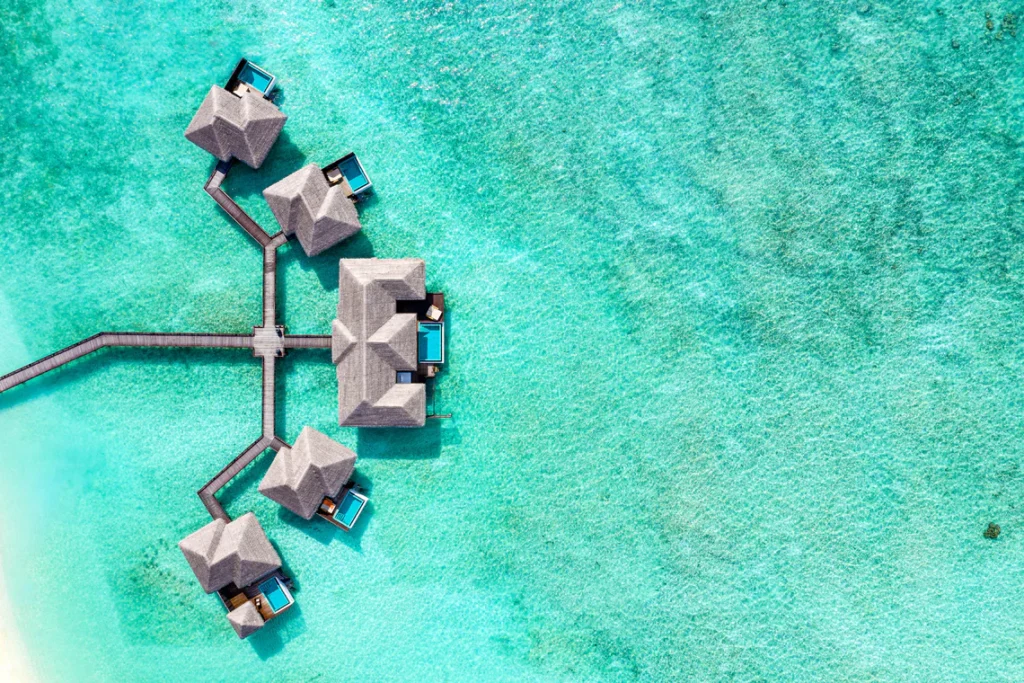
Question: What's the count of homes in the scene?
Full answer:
The picture shows 5 homes.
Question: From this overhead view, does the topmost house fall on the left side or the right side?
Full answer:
The topmost house sits on the left side.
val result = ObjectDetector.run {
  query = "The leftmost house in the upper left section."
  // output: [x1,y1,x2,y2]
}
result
[185,57,288,169]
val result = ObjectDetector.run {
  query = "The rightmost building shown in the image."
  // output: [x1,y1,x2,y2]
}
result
[332,258,454,427]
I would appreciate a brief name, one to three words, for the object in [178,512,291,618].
house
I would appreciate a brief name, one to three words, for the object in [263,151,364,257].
house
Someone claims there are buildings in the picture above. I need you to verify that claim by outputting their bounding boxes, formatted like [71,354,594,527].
[259,425,361,532]
[178,512,291,618]
[332,258,454,427]
[263,151,364,257]
[185,57,288,169]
